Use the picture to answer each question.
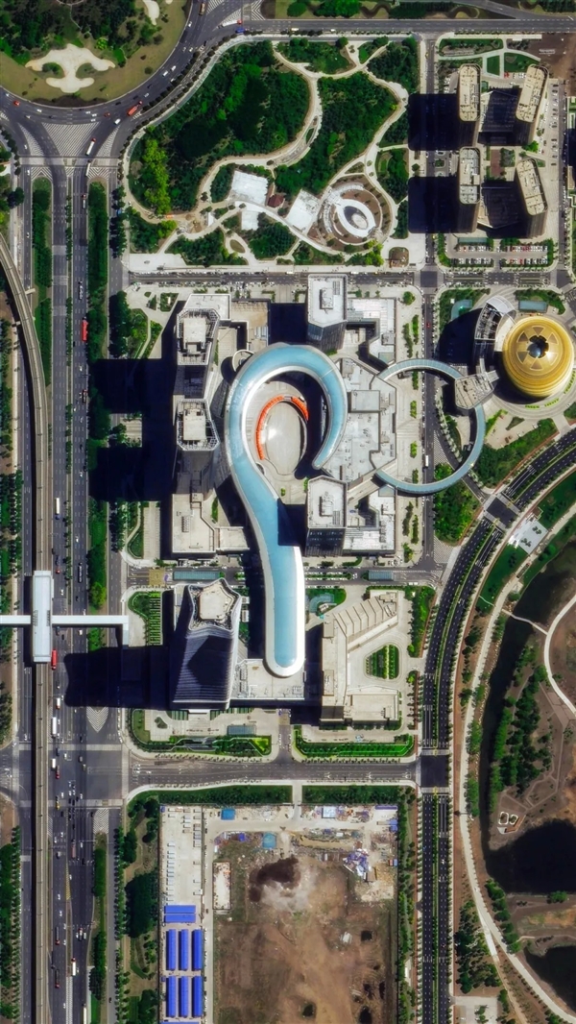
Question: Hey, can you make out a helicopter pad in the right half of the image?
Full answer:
No, in the right half of the image there is no helicopter pad.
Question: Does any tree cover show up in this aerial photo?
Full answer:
Yes, tree cover can be seen from above here.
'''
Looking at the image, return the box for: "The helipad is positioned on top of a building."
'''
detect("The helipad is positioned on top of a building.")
[199,584,234,623]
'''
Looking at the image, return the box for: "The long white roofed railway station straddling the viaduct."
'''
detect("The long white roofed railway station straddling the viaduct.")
[33,571,53,666]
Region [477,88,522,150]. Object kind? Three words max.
building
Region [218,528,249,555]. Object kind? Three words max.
building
